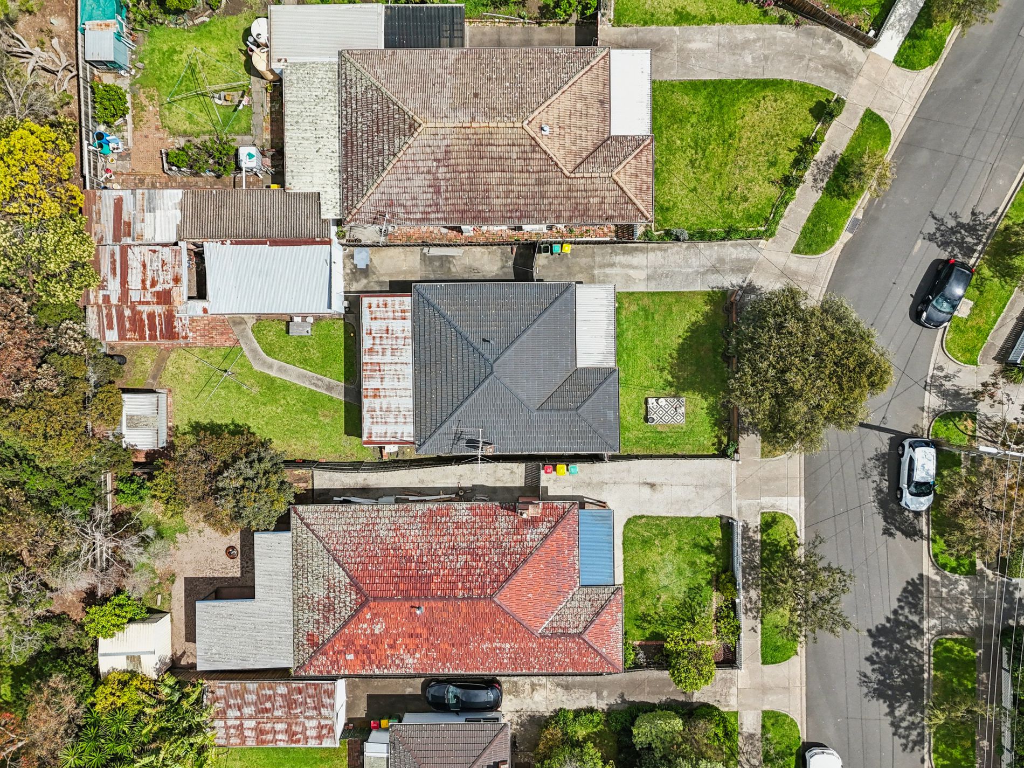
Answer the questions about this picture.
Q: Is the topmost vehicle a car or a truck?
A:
car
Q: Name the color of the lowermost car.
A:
white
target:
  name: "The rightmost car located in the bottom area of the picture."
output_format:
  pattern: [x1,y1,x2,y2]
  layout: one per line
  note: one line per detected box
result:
[897,438,939,509]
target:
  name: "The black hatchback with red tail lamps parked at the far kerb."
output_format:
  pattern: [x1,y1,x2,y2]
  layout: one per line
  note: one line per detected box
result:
[918,256,979,327]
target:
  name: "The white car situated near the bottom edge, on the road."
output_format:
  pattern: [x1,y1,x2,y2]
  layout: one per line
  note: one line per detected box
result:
[803,746,839,768]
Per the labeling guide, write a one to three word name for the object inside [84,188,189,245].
shed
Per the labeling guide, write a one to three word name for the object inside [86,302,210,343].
shed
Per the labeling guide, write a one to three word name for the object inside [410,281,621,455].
house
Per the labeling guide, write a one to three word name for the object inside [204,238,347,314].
building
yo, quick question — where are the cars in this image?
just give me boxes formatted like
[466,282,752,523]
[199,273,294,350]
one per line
[918,256,979,327]
[425,677,502,718]
[897,438,939,509]
[803,746,839,768]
